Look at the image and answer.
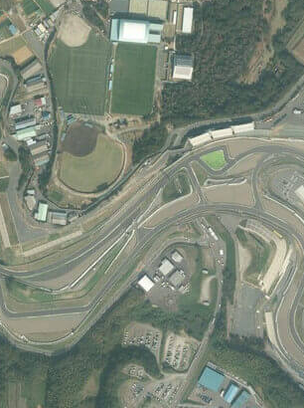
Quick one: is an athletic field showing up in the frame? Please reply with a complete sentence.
Yes, the photo shows an athletic field.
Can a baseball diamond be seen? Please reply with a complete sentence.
Yes, looking at the shot, I can spot a baseball diamond.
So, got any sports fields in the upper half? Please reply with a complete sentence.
Yes, in the upper half there is a sports field.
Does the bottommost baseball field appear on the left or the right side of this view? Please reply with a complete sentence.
It is on the left.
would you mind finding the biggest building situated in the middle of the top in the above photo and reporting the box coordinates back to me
[111,17,164,42]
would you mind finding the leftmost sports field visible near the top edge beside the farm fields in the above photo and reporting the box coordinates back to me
[50,10,113,115]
